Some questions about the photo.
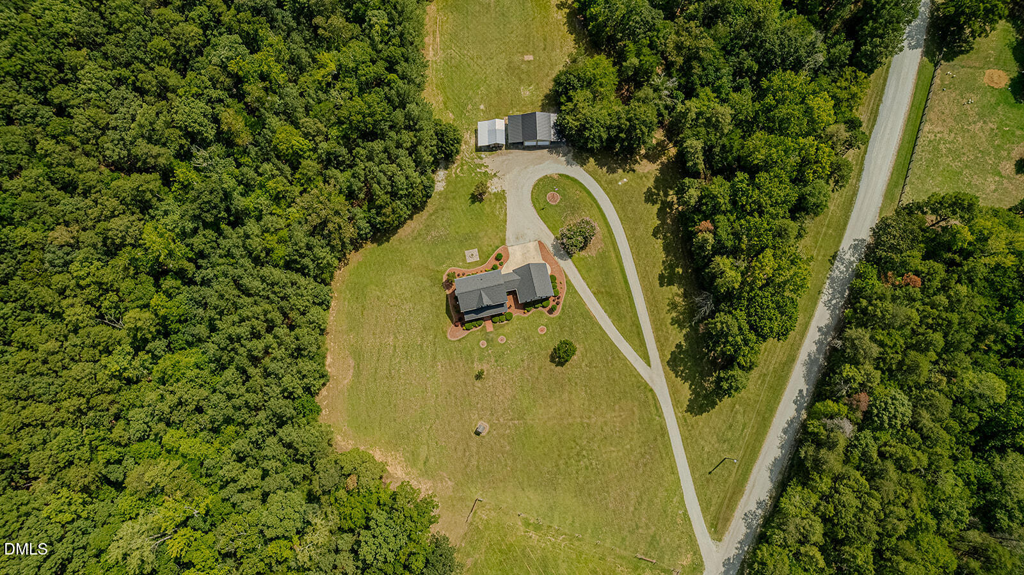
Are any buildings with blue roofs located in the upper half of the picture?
No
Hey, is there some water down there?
No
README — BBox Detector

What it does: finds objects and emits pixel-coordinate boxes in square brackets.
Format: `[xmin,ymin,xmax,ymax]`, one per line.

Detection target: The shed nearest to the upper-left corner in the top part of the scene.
[478,119,505,150]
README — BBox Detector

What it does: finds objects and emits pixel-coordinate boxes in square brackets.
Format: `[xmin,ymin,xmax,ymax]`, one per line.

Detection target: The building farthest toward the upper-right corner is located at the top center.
[508,111,557,148]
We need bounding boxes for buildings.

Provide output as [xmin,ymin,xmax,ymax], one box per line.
[478,119,505,150]
[453,263,554,322]
[508,111,557,148]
